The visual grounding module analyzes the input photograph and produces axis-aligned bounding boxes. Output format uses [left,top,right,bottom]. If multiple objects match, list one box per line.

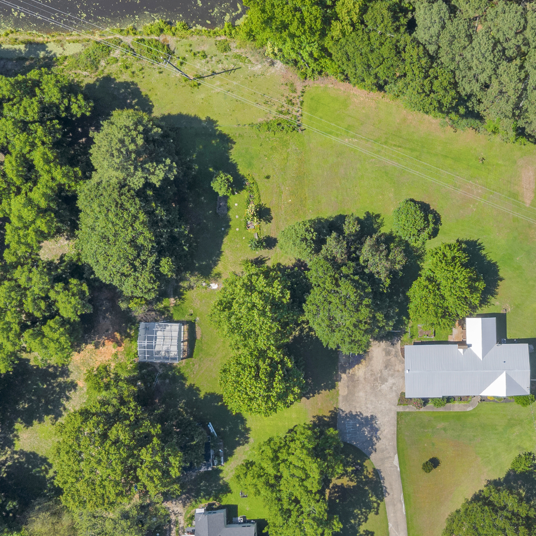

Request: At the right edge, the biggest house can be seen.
[404,317,531,398]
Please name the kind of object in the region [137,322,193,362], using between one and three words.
building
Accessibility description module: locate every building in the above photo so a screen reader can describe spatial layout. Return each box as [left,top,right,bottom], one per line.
[186,505,259,536]
[137,322,193,362]
[404,317,531,398]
